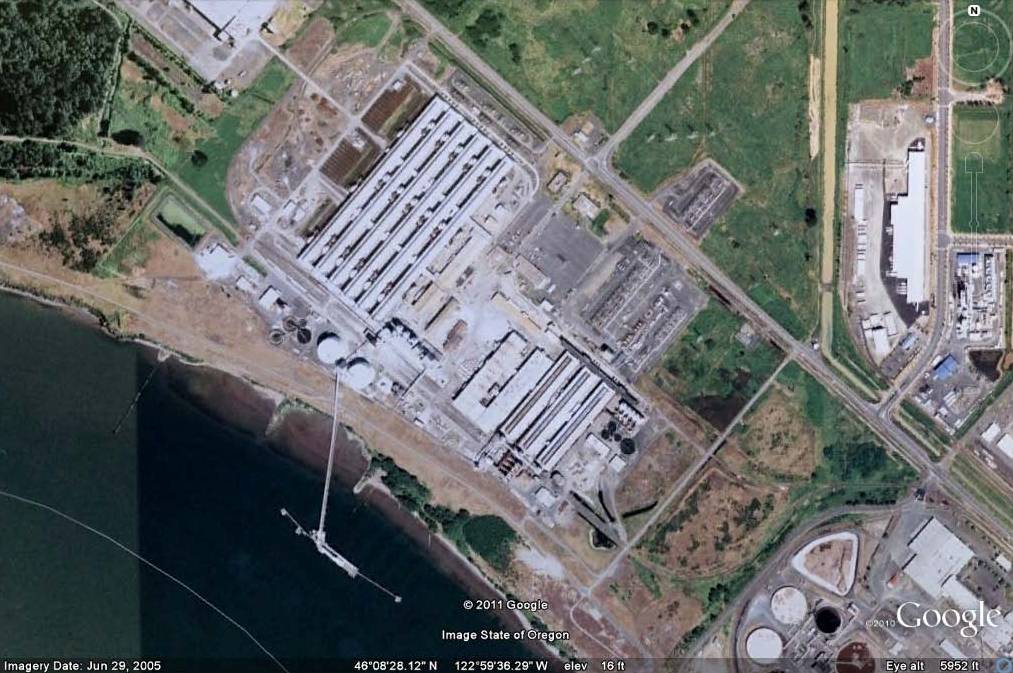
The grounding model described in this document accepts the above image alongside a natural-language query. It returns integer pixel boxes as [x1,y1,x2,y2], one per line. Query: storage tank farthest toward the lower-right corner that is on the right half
[835,640,875,673]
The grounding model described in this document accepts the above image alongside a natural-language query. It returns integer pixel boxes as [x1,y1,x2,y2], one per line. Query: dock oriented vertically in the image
[284,371,397,598]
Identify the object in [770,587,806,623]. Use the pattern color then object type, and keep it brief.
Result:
white storage tank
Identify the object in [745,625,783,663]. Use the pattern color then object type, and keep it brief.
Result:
white storage tank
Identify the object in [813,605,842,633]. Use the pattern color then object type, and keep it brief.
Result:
black storage tank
